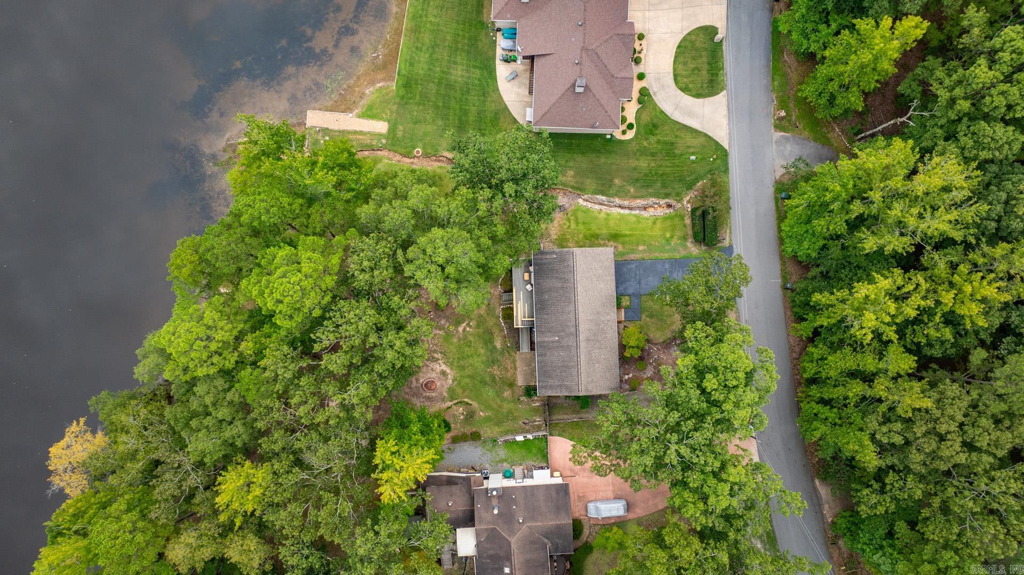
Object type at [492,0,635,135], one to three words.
house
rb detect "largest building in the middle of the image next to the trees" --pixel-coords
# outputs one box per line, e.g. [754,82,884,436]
[517,247,620,396]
